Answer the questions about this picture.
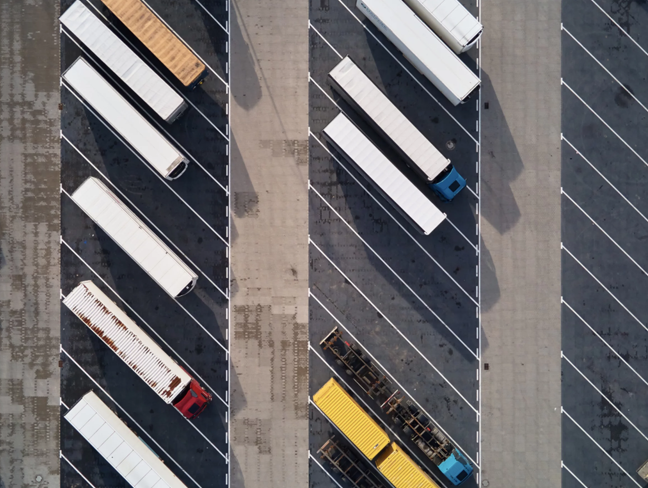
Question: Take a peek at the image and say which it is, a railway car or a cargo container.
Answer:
cargo container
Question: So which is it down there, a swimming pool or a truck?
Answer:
truck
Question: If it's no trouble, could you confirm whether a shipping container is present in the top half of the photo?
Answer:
No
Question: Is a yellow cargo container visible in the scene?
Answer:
Yes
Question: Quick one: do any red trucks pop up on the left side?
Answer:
Yes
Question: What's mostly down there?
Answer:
paved ground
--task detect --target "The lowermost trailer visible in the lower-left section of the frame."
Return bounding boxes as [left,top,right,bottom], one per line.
[64,391,186,488]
